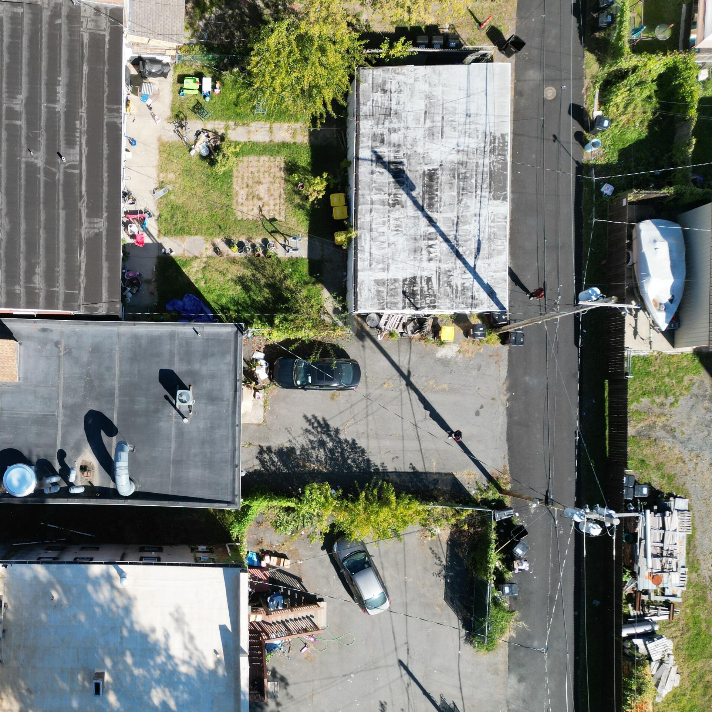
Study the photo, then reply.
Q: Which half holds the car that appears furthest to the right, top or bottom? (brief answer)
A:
bottom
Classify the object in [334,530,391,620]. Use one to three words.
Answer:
car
